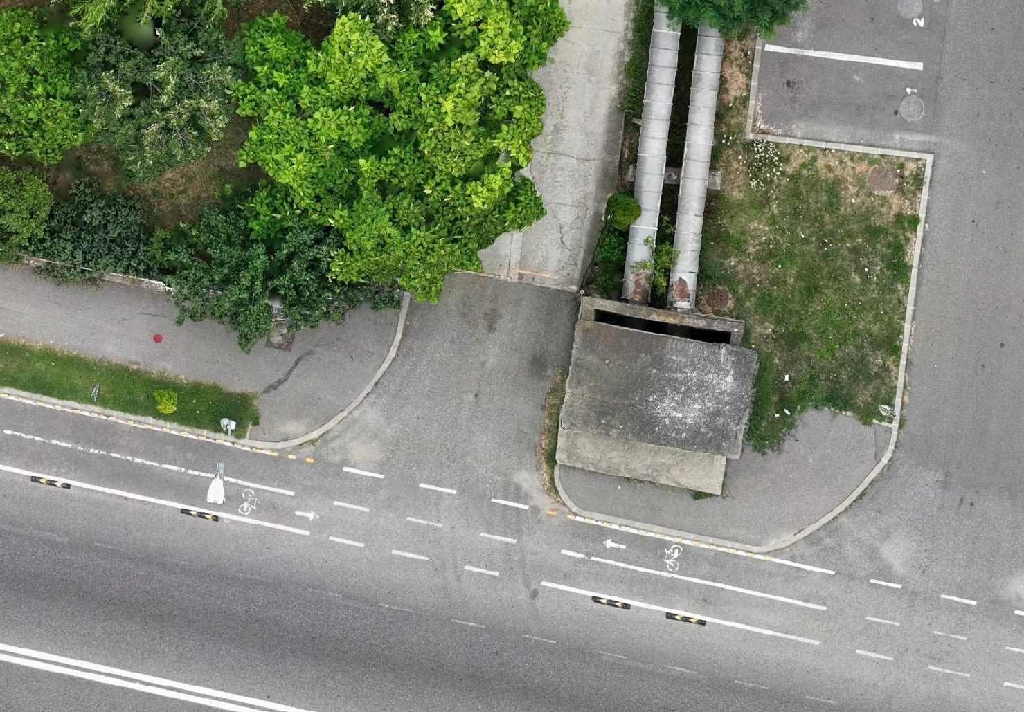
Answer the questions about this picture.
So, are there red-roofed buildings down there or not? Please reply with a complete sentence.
No, I can see no red-roofed building in this picture.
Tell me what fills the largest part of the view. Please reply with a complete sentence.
The largest share of the image is taken up by paved ground.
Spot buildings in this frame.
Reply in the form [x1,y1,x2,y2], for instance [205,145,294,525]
[556,296,756,495]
